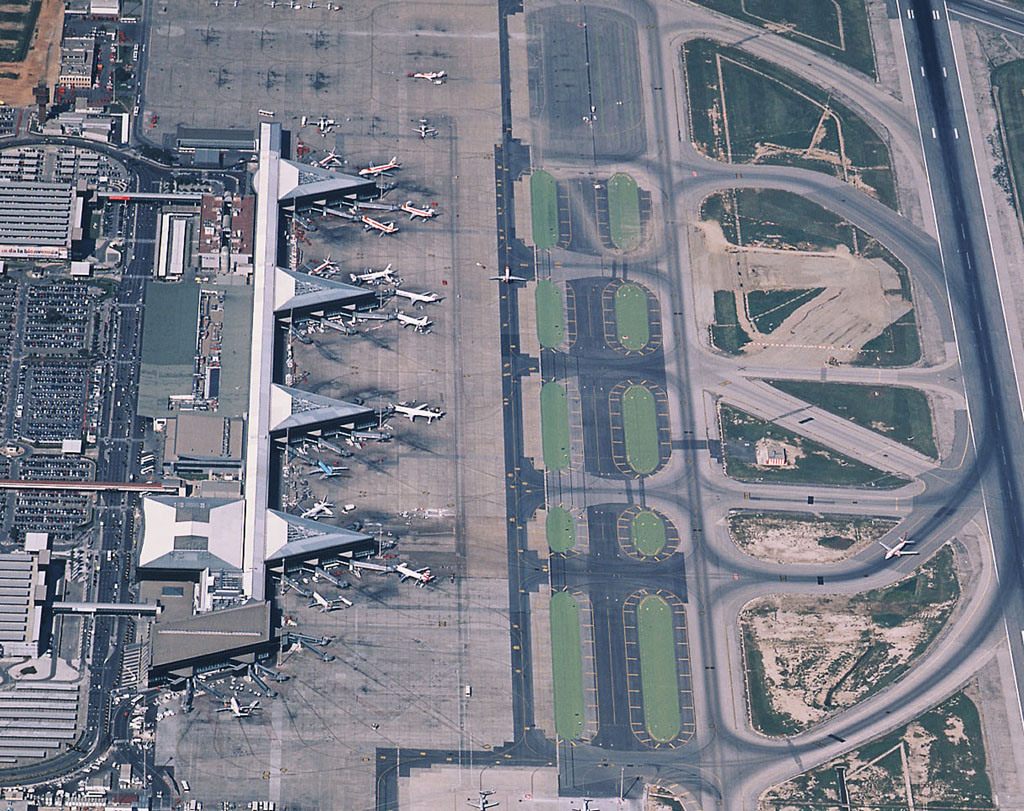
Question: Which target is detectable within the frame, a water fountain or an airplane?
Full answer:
The image shows an airplane.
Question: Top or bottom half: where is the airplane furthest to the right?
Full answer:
It is in the bottom half that the airplane furthest to the right appears.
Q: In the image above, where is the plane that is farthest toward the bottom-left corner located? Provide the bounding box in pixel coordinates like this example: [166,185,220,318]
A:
[221,699,256,716]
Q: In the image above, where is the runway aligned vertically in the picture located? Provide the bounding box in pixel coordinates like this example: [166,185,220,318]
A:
[897,0,1024,731]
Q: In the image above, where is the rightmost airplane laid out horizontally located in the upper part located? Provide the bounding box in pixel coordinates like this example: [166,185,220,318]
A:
[491,267,524,283]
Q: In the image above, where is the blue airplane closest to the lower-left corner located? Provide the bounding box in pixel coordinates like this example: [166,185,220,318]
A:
[316,462,344,476]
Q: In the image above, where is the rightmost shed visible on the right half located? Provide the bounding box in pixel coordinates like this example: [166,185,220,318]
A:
[760,446,784,464]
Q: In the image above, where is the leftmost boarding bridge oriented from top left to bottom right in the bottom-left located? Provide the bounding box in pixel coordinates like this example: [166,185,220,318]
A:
[193,676,229,700]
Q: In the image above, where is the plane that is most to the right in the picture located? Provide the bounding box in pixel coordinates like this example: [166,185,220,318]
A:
[883,532,919,559]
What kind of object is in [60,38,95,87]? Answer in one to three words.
building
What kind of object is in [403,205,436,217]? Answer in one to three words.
airplane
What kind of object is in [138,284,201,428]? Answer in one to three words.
building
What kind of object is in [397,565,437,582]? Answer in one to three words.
airplane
